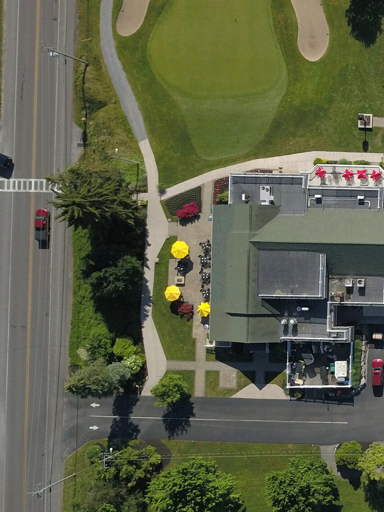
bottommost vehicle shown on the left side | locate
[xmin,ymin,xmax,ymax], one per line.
[34,209,52,241]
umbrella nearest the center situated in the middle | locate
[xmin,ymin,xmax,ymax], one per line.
[172,241,190,259]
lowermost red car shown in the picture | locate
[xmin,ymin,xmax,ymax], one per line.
[370,359,384,386]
